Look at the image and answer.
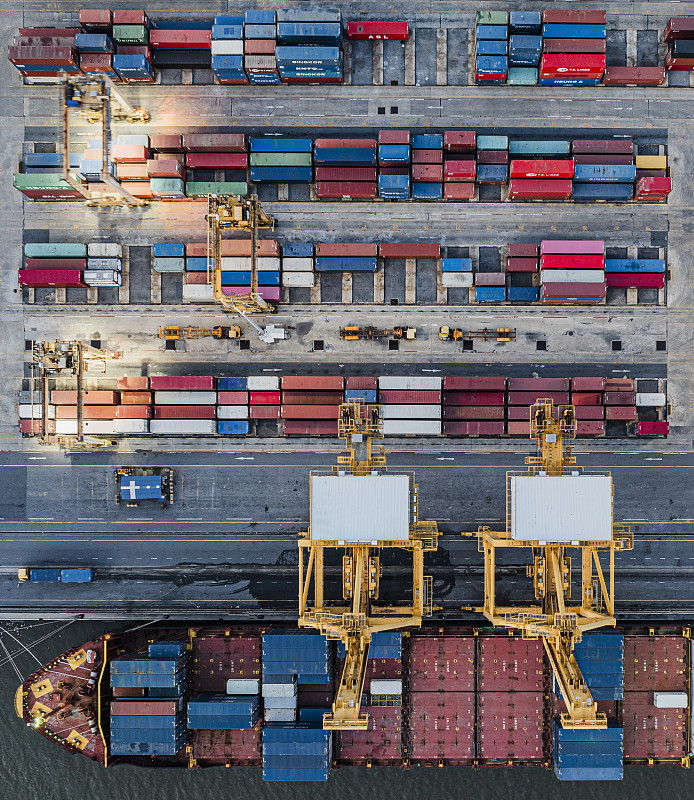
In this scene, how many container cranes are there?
5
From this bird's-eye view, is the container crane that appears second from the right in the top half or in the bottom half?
bottom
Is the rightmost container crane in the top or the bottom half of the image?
bottom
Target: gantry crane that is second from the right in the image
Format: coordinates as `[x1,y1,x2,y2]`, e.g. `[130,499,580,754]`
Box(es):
[295,392,442,736]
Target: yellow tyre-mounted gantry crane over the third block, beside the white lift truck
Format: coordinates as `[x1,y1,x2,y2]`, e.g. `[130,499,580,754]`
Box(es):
[204,187,281,311]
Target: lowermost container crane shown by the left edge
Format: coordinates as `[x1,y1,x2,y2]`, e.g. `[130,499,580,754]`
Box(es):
[30,335,124,448]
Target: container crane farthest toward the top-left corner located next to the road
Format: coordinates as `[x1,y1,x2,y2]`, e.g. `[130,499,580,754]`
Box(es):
[54,71,145,206]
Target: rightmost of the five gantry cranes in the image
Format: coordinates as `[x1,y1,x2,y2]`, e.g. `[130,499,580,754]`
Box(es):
[461,392,635,736]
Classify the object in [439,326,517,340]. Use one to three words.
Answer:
vehicle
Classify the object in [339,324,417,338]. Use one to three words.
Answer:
vehicle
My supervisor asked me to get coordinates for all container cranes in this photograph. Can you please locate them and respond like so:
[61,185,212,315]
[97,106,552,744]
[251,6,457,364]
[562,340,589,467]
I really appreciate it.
[30,335,124,448]
[54,71,145,206]
[295,392,442,736]
[461,392,635,736]
[204,187,281,311]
